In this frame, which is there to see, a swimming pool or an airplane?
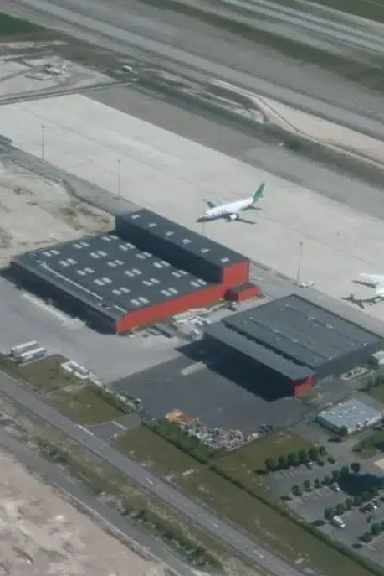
airplane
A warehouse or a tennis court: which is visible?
warehouse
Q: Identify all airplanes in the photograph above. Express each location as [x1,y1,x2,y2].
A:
[358,273,384,296]
[203,183,265,220]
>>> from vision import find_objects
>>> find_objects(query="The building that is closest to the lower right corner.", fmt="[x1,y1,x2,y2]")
[318,397,384,437]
